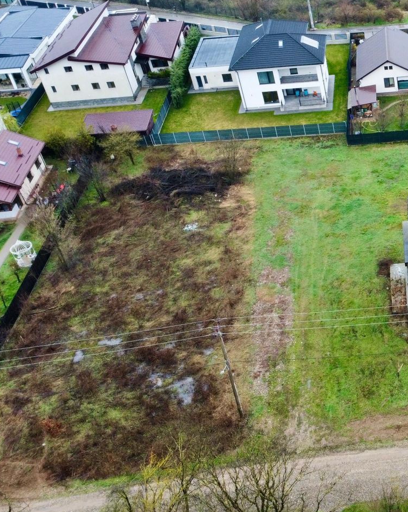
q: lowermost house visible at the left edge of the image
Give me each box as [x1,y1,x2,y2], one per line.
[0,126,48,225]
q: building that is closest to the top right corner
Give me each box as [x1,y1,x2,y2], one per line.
[356,24,408,94]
